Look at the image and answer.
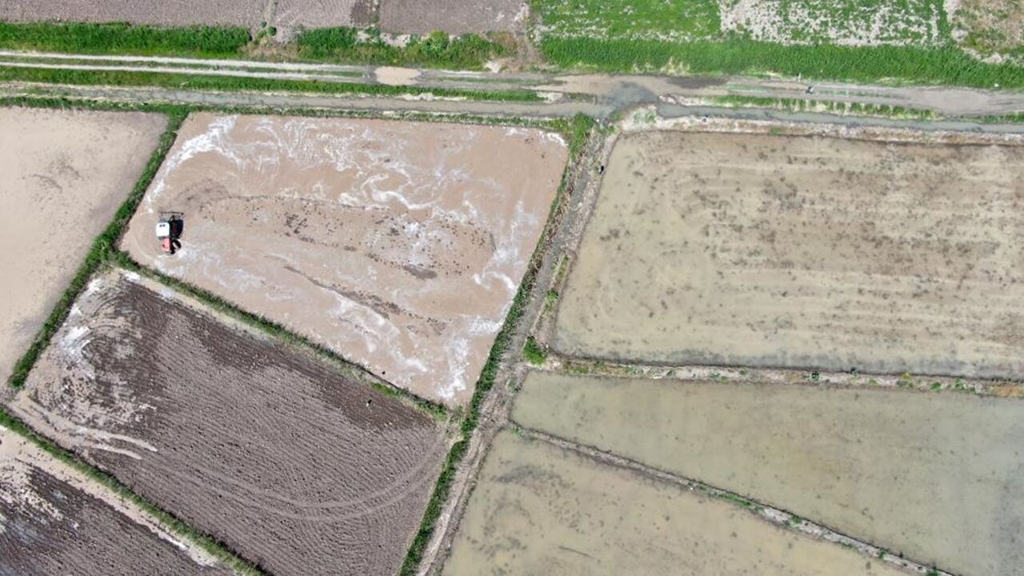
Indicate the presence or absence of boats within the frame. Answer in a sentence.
No, the scene contains no boat.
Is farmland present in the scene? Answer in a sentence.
Yes, the picture does contain farmland.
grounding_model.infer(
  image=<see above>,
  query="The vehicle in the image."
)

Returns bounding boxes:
[156,222,180,255]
